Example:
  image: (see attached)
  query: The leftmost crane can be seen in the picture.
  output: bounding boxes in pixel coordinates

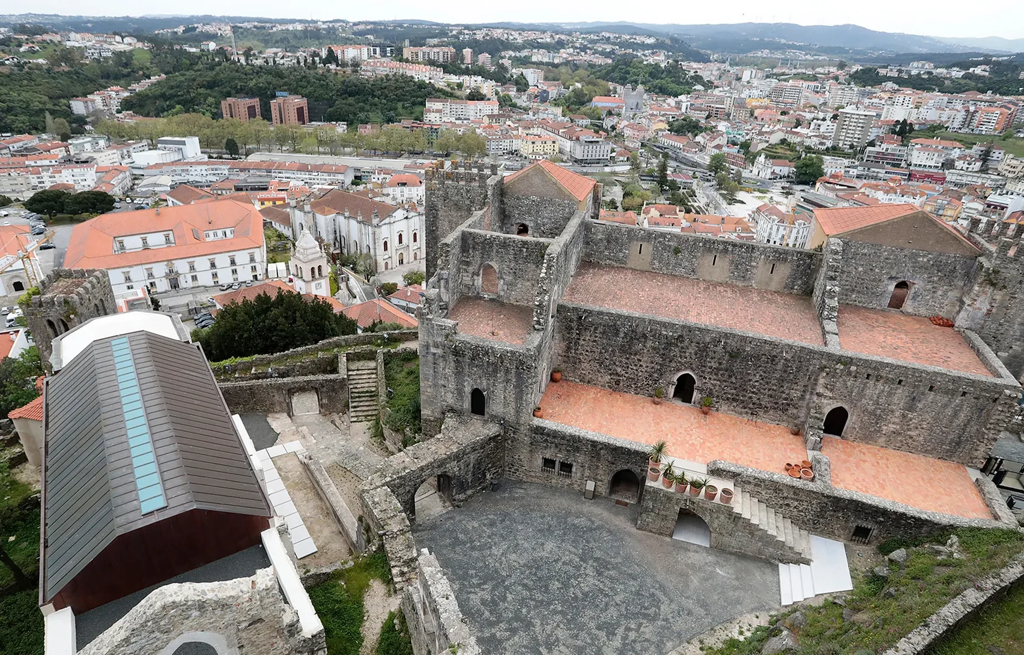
[0,222,76,292]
